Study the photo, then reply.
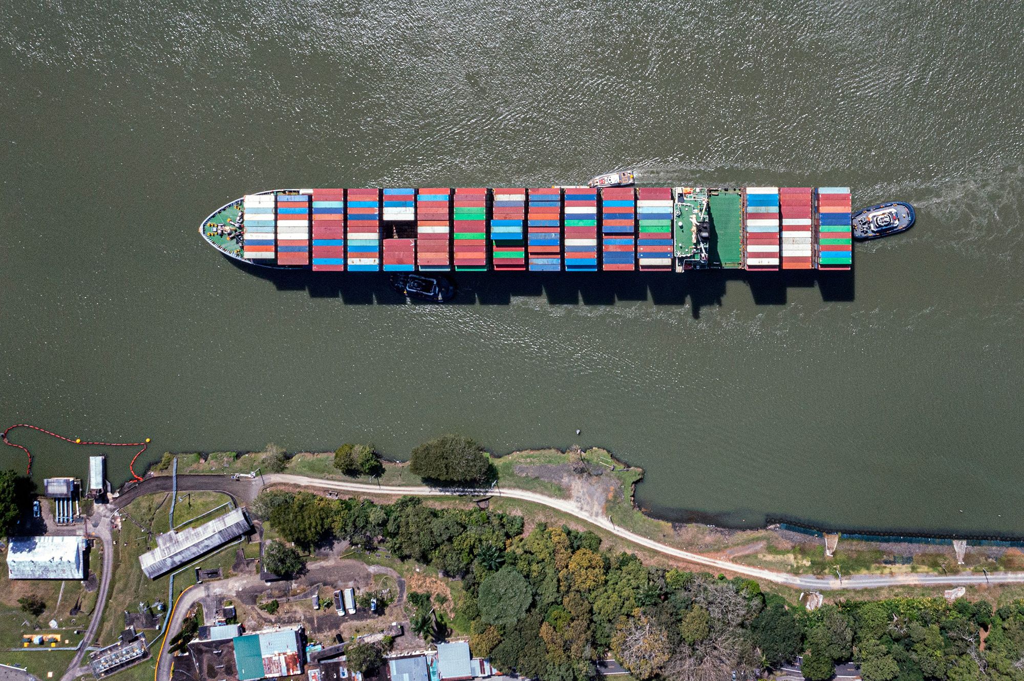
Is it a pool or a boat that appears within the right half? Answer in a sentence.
The feature located within the right half is a boat.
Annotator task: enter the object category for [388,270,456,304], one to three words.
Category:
boat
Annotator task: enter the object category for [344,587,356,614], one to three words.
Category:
vehicle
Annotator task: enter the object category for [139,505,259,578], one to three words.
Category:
building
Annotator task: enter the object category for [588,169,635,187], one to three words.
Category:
boat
